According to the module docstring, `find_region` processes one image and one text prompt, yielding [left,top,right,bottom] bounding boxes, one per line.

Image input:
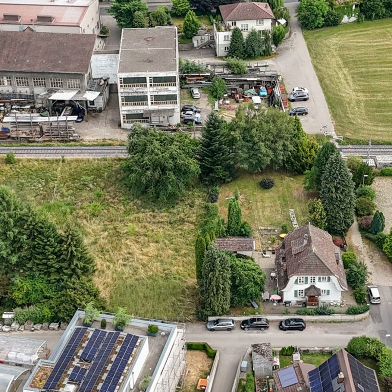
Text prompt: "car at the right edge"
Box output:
[366,281,382,303]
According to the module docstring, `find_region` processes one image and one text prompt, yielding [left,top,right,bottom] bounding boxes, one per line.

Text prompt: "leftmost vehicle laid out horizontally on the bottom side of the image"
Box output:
[207,319,236,332]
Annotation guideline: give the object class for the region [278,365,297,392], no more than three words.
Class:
solar array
